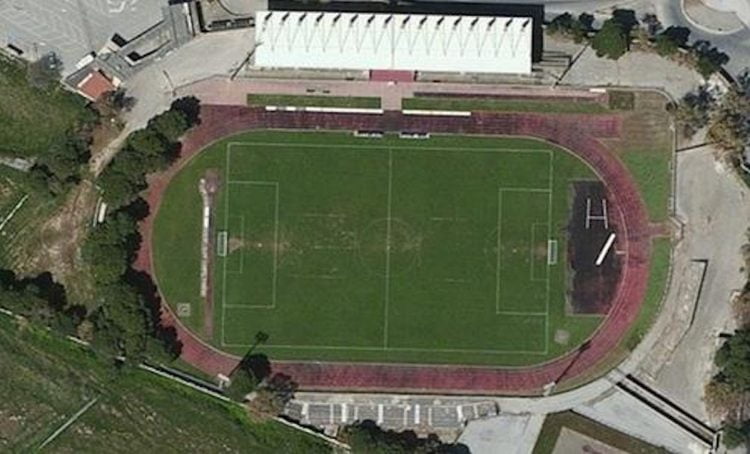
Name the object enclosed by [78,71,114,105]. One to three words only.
house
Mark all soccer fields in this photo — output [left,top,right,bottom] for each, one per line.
[220,141,556,357]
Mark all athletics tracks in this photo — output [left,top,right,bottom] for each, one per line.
[125,104,653,392]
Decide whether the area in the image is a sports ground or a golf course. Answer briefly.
sports ground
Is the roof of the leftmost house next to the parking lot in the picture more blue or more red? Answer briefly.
red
